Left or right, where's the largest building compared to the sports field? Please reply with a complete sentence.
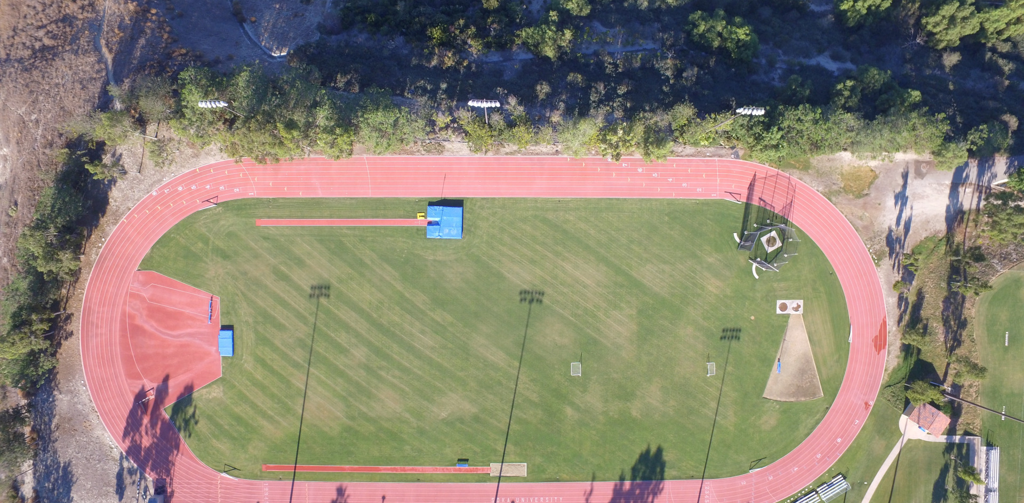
Looking at the photo, the largest building lies to the left of the sports field.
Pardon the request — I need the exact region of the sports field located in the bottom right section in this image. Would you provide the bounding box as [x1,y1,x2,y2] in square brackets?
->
[976,269,1024,503]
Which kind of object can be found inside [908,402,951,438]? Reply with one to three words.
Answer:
building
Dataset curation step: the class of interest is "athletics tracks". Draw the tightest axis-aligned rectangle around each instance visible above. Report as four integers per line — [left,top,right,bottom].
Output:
[80,156,888,503]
